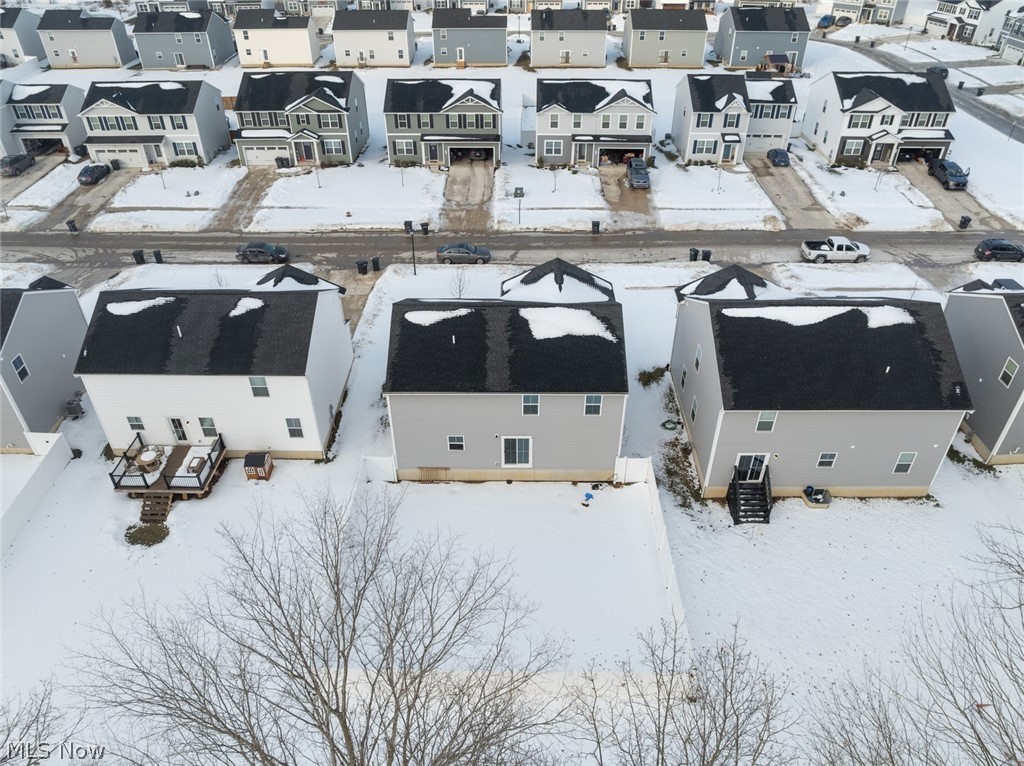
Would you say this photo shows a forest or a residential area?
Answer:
residential area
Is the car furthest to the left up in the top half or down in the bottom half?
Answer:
top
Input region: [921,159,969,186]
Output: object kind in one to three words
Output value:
vehicle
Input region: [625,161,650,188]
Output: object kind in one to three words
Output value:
vehicle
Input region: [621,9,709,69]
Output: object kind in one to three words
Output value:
house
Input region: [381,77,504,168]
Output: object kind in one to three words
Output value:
house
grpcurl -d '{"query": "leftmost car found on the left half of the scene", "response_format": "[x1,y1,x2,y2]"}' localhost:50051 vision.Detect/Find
[0,155,25,179]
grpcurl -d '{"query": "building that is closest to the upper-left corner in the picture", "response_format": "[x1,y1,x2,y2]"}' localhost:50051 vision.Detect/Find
[0,4,46,63]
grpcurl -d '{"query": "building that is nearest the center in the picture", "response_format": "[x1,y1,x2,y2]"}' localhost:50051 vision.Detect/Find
[383,256,630,482]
